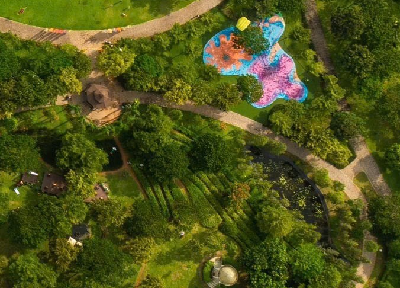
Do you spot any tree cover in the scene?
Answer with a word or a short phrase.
Yes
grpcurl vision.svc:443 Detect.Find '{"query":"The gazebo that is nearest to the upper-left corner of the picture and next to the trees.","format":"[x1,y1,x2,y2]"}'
[85,84,110,110]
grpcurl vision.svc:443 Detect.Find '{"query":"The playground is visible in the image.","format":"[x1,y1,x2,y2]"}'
[202,14,308,108]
